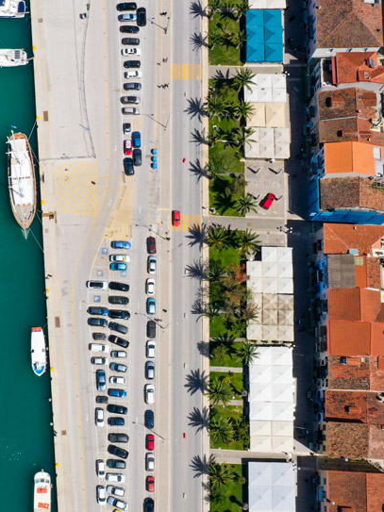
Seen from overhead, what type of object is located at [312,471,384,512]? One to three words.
house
